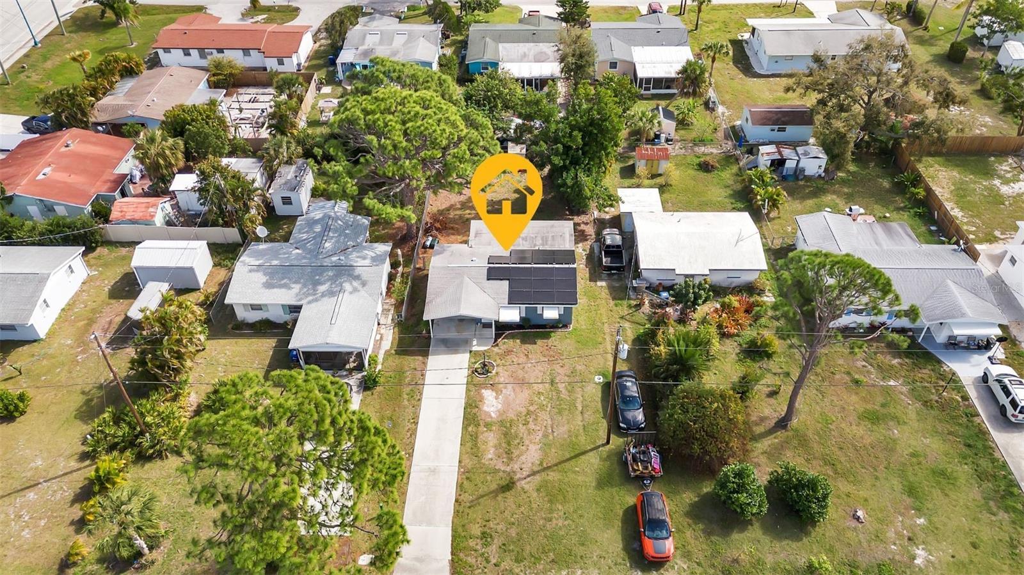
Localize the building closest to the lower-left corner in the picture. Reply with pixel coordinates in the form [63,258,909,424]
[0,247,97,343]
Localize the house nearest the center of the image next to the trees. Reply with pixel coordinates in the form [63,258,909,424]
[422,220,580,337]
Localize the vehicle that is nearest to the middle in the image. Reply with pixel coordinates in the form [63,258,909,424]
[599,225,629,271]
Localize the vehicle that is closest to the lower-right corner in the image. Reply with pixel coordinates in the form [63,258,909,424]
[979,367,1024,429]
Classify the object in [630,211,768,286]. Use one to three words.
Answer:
house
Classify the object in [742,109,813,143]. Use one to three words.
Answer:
building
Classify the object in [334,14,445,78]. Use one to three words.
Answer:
house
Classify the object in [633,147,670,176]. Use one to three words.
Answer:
shed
